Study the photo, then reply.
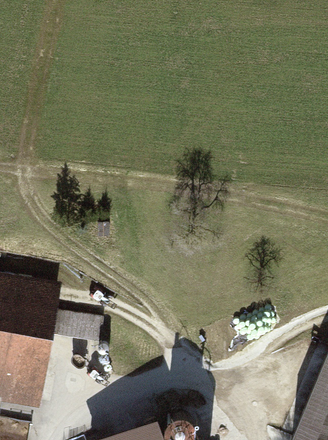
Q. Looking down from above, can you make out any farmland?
Yes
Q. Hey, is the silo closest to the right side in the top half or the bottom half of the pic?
bottom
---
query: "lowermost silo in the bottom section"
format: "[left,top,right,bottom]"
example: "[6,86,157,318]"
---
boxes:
[164,415,196,440]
